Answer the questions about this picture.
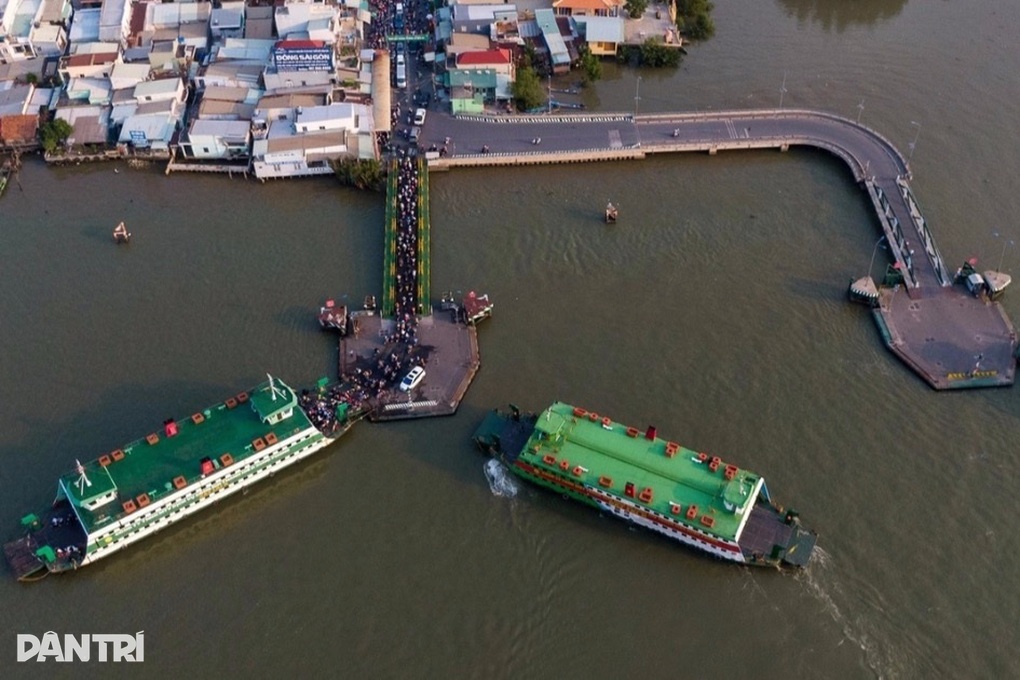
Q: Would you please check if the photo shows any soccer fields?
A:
No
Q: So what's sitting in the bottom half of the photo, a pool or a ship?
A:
ship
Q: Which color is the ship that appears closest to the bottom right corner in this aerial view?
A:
green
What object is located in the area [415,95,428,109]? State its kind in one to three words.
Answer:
vehicle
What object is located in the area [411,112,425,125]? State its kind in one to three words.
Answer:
vehicle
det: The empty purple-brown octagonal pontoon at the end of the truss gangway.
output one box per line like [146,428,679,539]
[871,282,1019,395]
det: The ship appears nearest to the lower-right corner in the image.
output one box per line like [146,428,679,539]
[468,397,820,574]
